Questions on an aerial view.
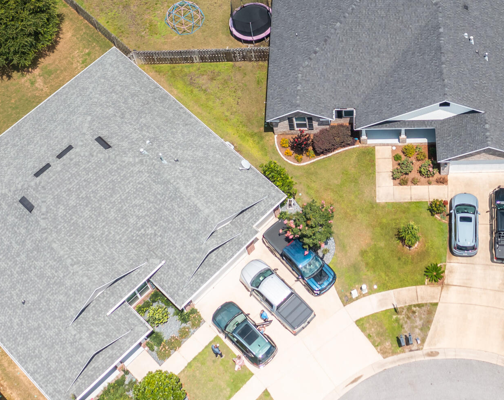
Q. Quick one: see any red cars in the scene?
No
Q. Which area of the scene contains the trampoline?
top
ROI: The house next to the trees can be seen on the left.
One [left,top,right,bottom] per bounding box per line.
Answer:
[0,45,286,400]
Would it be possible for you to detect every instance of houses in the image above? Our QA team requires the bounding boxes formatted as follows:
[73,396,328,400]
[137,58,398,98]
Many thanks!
[0,45,286,400]
[266,0,504,174]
